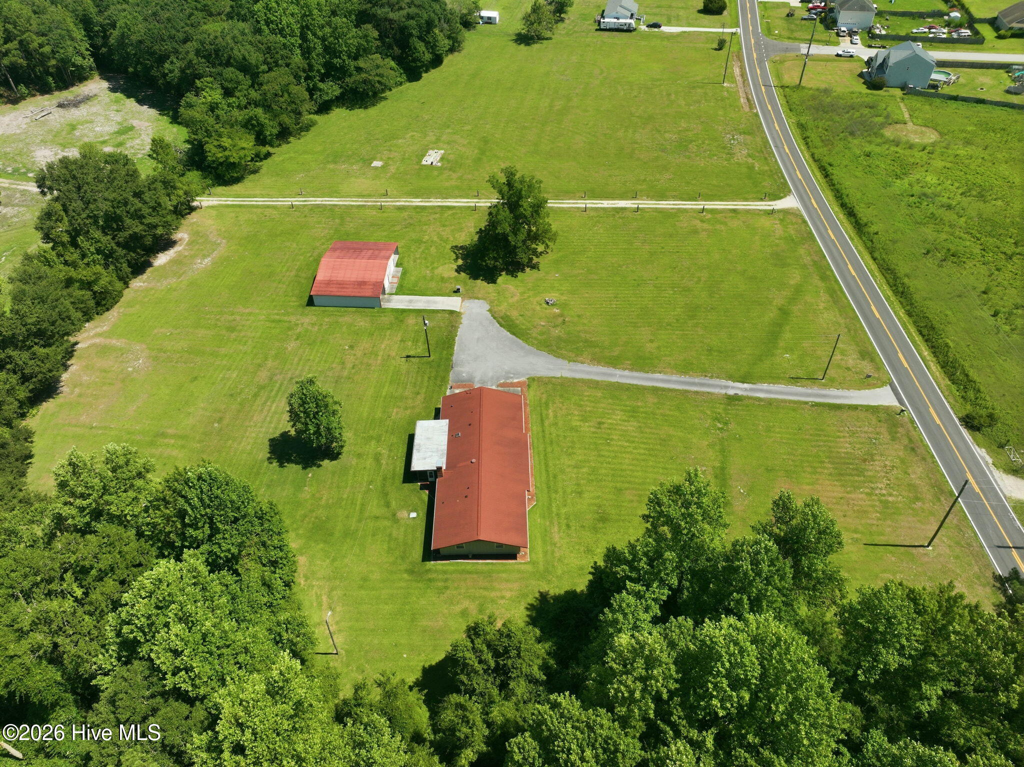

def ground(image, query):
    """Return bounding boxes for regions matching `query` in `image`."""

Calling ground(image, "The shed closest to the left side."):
[310,240,398,308]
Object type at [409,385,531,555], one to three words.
house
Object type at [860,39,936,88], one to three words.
house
